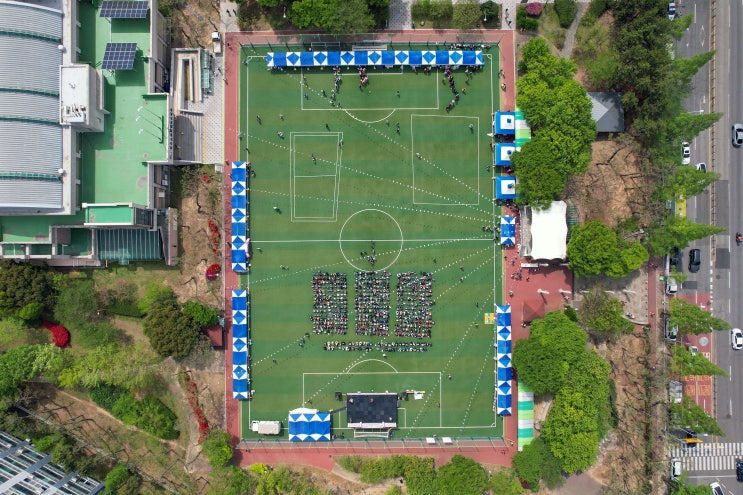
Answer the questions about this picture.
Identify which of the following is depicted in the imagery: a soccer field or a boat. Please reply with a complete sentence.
Of the two, only a soccer field appears.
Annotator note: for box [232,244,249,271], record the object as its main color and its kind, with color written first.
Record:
blue tent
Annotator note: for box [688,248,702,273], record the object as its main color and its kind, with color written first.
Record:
black car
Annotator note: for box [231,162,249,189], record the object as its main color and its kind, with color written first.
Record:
blue tent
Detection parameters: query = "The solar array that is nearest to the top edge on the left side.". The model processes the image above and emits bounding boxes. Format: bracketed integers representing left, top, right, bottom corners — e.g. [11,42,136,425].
[100,0,149,21]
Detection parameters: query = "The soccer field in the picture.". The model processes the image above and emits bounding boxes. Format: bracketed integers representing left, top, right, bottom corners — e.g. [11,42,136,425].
[239,44,503,441]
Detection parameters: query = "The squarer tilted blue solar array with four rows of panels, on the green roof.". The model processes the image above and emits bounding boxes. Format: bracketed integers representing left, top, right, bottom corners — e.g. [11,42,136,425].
[102,43,137,70]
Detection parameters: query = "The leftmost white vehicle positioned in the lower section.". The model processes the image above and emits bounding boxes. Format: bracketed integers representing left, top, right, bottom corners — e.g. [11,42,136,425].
[253,421,282,436]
